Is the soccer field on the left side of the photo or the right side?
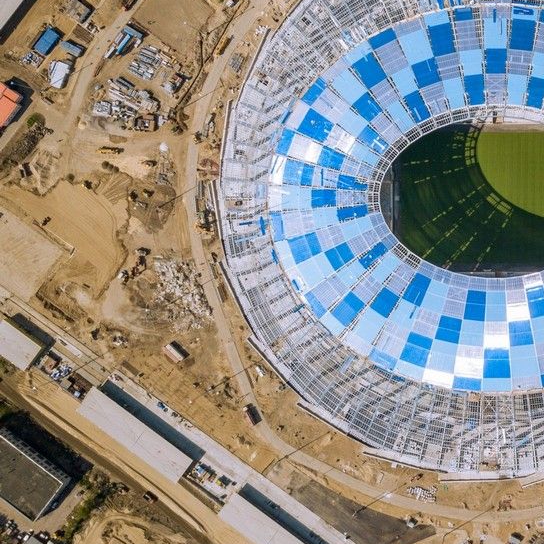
right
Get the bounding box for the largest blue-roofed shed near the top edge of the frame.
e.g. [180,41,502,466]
[34,26,64,56]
